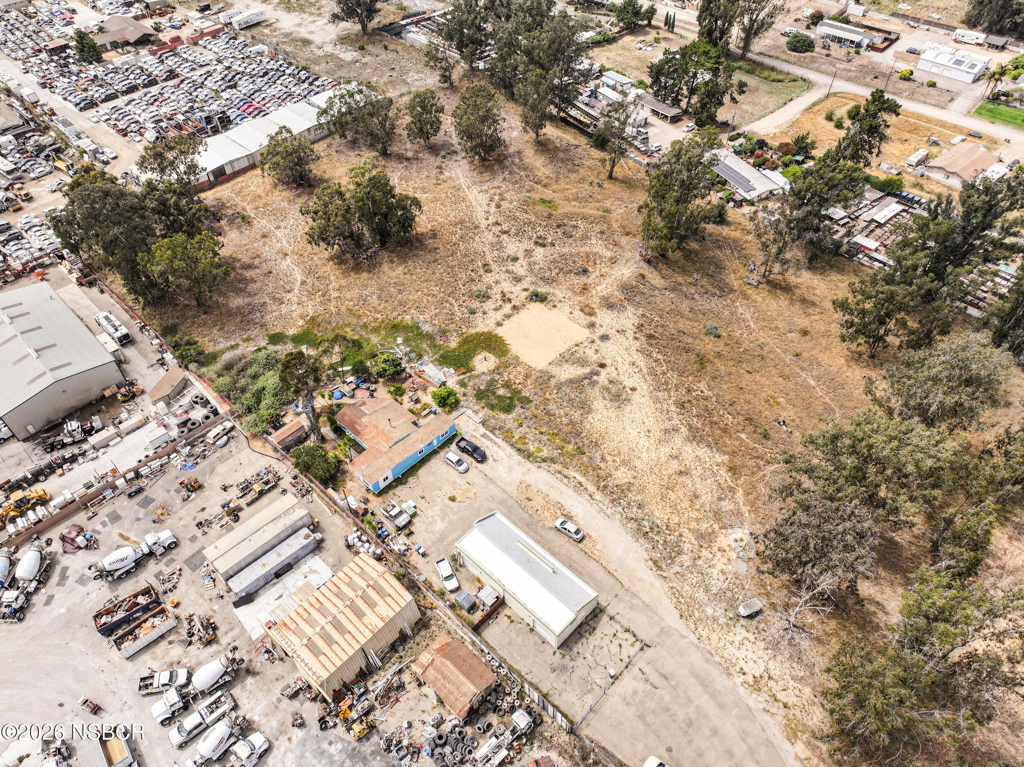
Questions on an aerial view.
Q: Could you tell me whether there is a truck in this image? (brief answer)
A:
Yes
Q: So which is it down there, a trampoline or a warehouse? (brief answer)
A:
warehouse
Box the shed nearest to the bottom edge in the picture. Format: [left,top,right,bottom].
[408,628,501,726]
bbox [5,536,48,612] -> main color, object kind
white truck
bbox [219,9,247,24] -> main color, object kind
white vehicle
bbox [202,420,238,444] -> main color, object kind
white car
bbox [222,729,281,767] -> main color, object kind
white truck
